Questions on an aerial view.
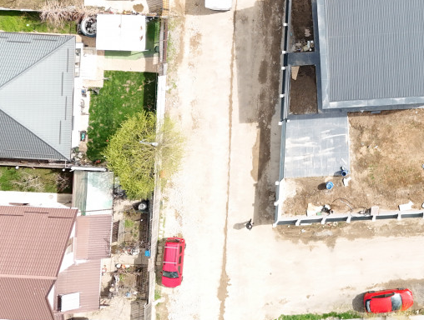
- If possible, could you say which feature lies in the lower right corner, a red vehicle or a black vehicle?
red vehicle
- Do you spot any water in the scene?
No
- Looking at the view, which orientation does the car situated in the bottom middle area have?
from top to bottom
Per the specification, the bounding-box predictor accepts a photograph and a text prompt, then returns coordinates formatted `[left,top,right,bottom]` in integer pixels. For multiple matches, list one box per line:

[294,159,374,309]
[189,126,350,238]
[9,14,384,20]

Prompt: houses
[317,0,424,109]
[0,30,86,162]
[0,203,80,320]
